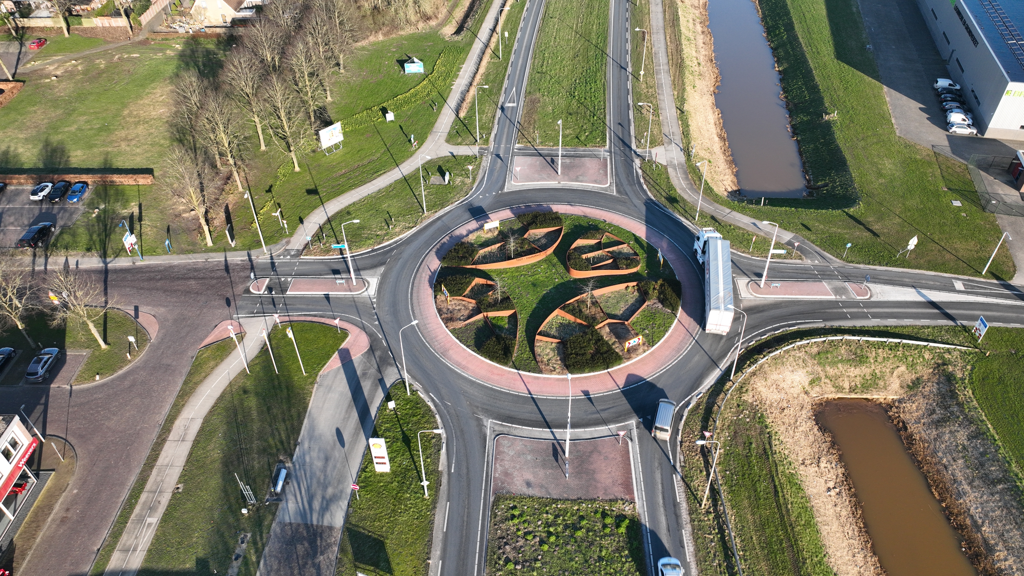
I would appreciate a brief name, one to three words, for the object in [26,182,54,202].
car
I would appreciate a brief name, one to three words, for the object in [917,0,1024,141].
building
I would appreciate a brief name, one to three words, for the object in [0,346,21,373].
car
